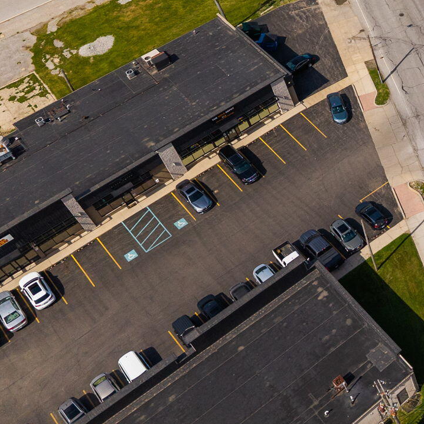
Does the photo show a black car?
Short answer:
Yes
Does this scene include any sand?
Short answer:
No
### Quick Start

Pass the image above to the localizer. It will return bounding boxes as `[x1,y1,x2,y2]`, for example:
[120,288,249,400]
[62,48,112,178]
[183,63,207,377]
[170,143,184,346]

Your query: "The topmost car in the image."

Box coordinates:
[285,51,322,77]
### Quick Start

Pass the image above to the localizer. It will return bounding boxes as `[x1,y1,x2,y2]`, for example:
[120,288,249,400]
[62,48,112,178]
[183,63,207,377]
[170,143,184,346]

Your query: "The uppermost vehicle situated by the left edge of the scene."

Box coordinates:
[17,272,56,311]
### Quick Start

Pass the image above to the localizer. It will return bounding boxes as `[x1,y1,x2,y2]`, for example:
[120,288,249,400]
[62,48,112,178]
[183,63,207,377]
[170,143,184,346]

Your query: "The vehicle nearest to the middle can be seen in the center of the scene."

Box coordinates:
[172,177,216,215]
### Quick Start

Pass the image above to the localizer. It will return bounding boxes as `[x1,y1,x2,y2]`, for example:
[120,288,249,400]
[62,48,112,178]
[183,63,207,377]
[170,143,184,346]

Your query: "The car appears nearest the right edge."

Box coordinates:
[355,200,390,235]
